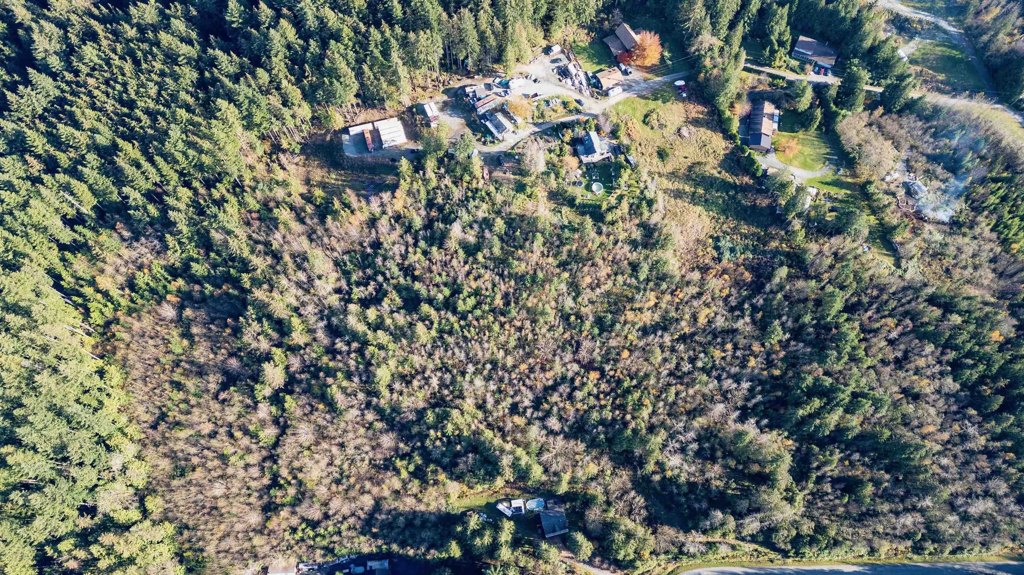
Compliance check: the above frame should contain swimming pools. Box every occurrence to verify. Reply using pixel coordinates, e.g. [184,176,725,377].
[592,182,603,194]
[351,565,365,575]
[527,498,544,511]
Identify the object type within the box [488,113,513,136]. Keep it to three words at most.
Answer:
building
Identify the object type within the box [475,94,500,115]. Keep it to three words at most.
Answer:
barn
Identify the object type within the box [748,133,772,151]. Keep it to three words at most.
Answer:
building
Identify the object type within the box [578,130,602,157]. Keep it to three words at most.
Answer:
house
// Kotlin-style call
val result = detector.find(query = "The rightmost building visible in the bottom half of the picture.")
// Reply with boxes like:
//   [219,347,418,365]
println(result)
[540,511,569,539]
